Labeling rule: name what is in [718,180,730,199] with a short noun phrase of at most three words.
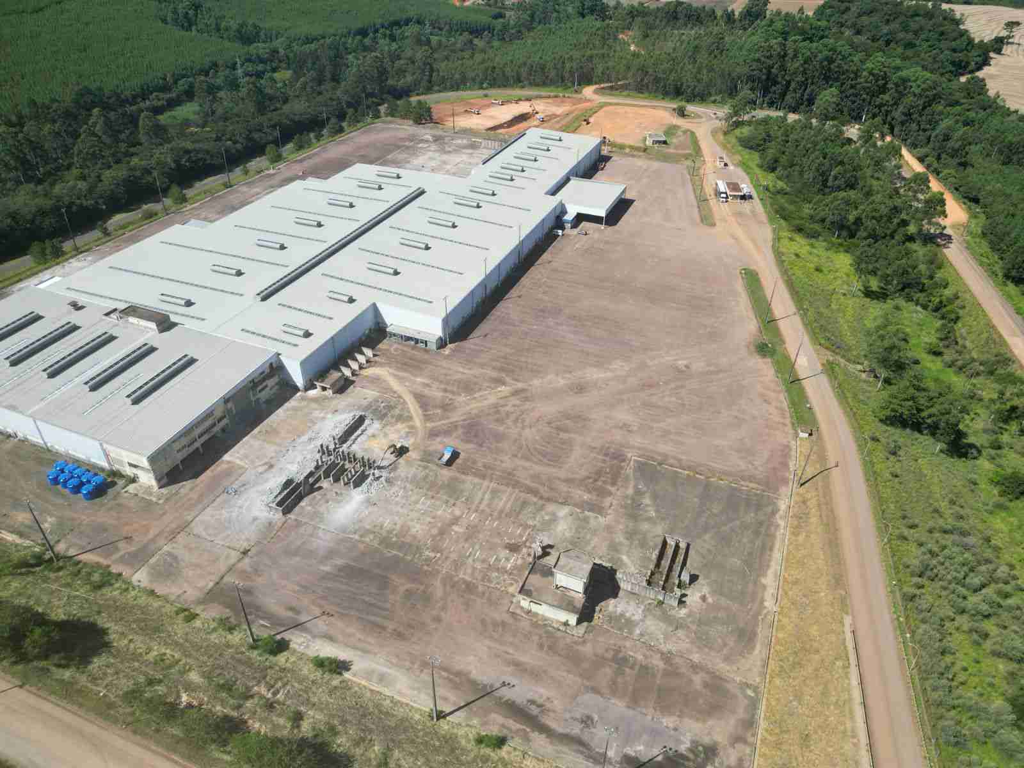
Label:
vehicle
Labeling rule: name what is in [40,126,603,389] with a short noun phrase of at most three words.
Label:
building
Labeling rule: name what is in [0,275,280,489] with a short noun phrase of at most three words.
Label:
building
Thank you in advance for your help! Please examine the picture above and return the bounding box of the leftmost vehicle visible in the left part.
[378,439,413,465]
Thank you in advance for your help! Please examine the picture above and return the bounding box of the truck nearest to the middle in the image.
[437,442,459,466]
